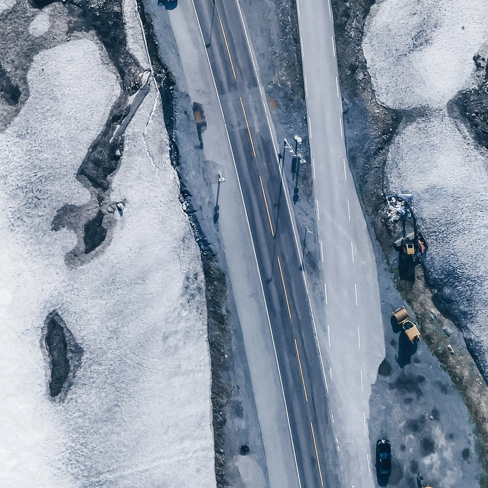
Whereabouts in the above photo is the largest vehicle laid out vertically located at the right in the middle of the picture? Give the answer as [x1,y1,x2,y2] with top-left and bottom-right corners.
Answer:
[399,199,428,267]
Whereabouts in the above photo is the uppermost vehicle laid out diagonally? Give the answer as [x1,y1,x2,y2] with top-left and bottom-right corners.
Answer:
[388,301,420,343]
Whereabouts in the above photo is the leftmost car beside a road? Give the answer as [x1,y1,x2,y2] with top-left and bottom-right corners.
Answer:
[375,440,392,475]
